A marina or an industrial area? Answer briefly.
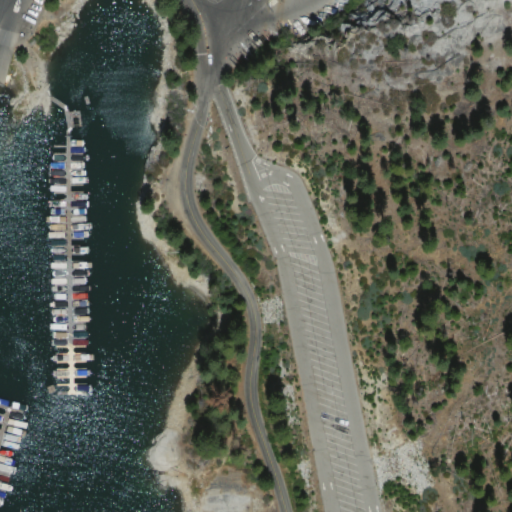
marina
